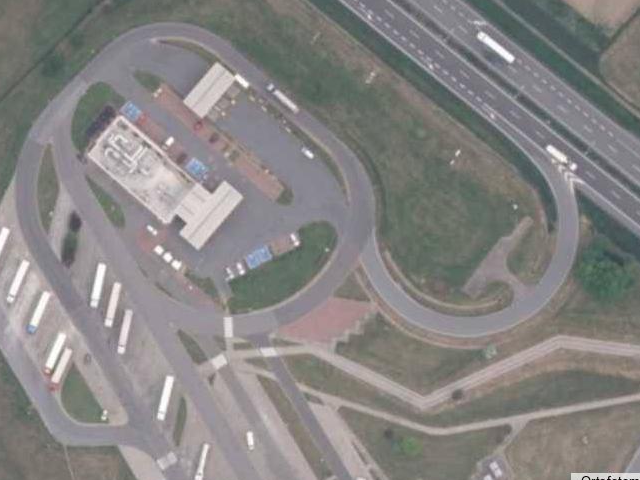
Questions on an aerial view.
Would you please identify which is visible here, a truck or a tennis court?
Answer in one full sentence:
Looking from above, you can make out a truck.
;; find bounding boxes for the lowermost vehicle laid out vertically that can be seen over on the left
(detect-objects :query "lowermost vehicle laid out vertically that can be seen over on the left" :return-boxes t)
[195,443,210,480]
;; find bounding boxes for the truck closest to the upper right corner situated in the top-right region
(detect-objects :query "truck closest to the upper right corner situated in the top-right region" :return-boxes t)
[476,31,516,64]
